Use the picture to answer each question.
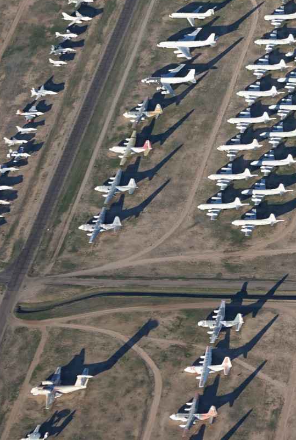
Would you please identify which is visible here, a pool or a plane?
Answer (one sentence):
There is a plane in the scene.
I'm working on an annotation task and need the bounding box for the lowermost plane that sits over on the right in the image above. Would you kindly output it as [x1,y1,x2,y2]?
[169,392,219,435]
